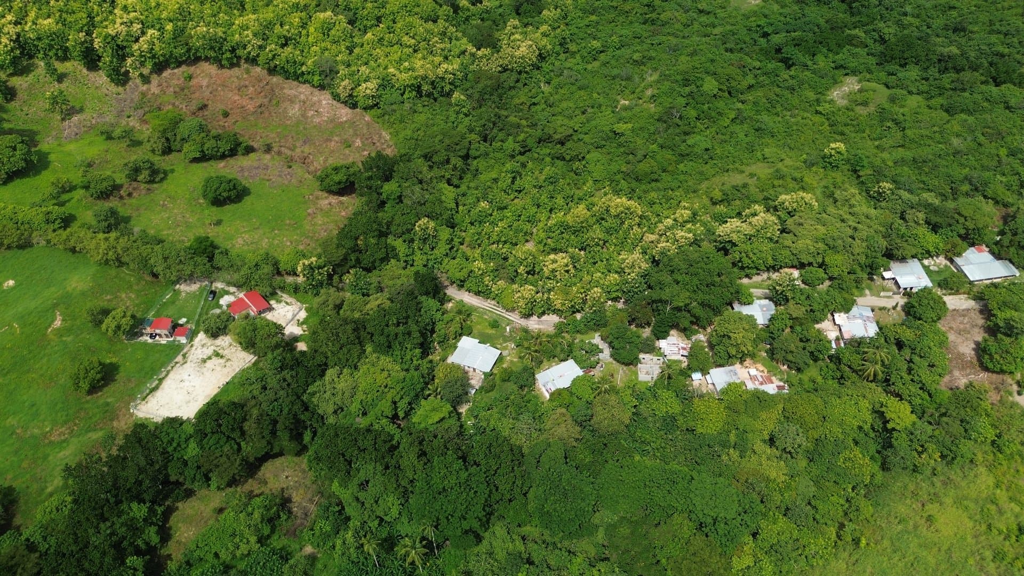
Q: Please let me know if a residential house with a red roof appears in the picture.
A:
Yes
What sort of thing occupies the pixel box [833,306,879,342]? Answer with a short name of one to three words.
house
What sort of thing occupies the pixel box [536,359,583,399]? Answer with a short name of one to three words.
house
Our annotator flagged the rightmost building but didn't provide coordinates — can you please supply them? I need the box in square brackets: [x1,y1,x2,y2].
[953,245,1019,287]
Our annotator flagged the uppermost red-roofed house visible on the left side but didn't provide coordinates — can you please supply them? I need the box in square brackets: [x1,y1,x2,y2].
[229,291,272,319]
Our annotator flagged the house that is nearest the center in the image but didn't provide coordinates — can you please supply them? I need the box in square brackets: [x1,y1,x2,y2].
[451,336,501,377]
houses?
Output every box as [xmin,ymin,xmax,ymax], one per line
[536,359,583,399]
[833,306,879,342]
[141,317,176,341]
[953,245,1019,287]
[451,336,501,377]
[659,337,690,359]
[709,366,742,394]
[229,291,272,319]
[743,375,788,396]
[639,358,665,382]
[883,259,932,293]
[735,299,775,326]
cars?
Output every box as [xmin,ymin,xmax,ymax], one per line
[208,291,217,301]
[145,333,158,342]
